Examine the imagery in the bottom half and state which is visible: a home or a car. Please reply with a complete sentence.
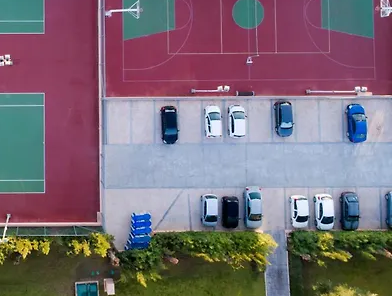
The one visible in the bottom half is a car.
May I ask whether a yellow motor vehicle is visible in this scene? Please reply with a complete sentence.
No, the photo shows no yellow motor vehicle.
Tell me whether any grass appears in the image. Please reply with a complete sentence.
Yes, grass shows up in the scene.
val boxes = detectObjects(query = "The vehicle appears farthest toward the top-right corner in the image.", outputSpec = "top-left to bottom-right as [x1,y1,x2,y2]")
[343,104,367,144]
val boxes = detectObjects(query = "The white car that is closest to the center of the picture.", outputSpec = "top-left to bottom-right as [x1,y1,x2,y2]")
[202,105,222,138]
